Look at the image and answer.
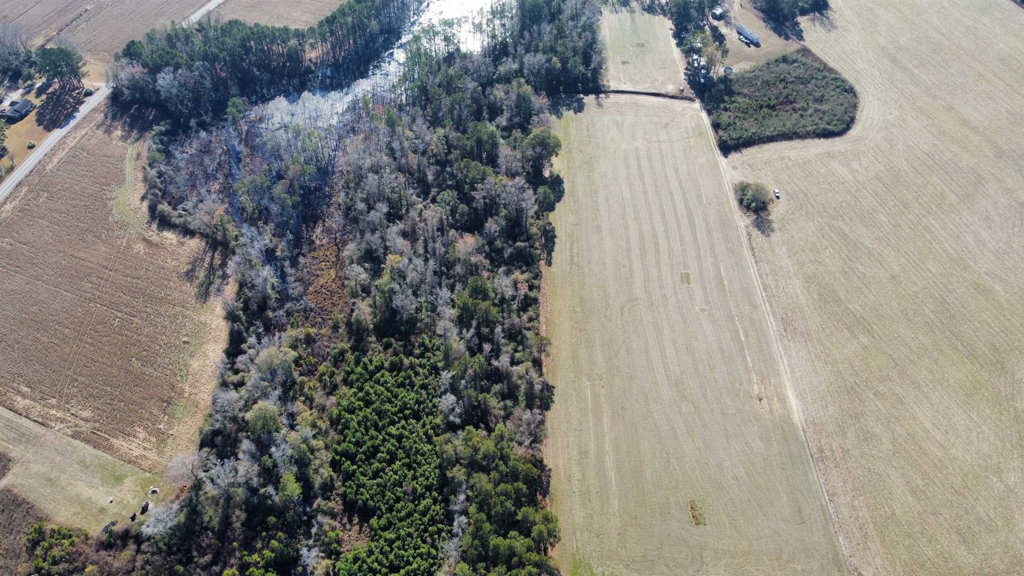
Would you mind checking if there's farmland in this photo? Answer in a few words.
Yes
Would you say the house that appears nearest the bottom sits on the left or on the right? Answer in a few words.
left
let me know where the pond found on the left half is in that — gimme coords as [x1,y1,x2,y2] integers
[251,0,511,142]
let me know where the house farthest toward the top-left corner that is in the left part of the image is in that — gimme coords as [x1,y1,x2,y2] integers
[3,98,35,120]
